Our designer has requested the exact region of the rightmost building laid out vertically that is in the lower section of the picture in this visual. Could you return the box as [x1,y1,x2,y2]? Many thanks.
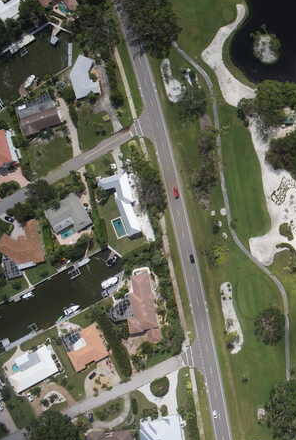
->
[129,272,163,341]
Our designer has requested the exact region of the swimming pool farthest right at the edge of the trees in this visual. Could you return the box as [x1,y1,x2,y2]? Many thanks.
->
[111,215,129,240]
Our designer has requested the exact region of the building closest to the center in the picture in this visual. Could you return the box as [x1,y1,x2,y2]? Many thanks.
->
[97,172,142,236]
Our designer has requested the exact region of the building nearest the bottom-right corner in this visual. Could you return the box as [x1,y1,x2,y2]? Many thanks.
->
[141,413,185,440]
